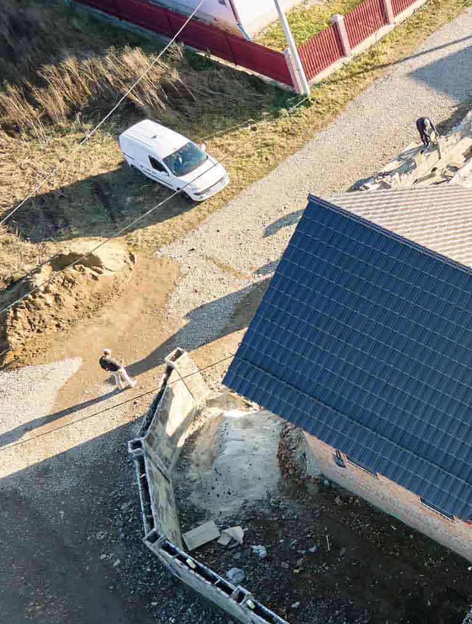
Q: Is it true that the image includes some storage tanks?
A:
No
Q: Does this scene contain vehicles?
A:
Yes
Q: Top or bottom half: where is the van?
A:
top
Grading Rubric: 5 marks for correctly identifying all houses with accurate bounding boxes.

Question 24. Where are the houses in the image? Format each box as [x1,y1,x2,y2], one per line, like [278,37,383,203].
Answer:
[138,0,310,42]
[222,183,472,563]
